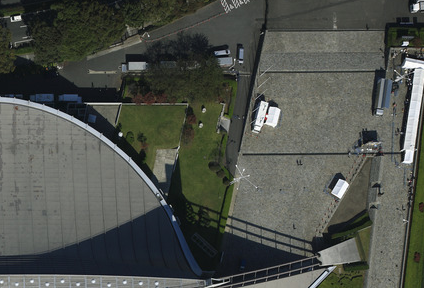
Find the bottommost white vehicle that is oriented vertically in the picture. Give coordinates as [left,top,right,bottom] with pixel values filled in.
[252,100,269,134]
